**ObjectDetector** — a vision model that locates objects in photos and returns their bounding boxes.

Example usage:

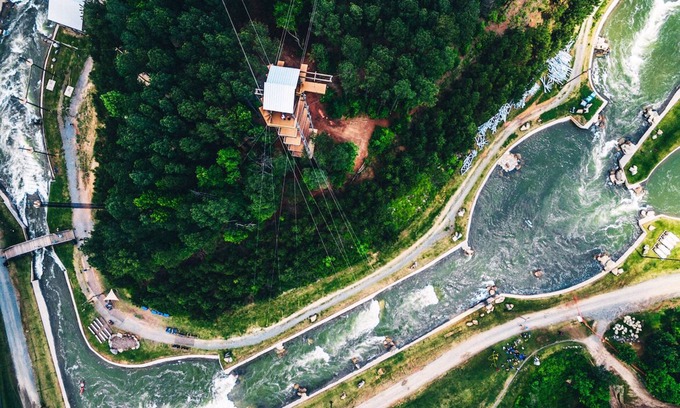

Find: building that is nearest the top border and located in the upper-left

[48,0,94,33]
